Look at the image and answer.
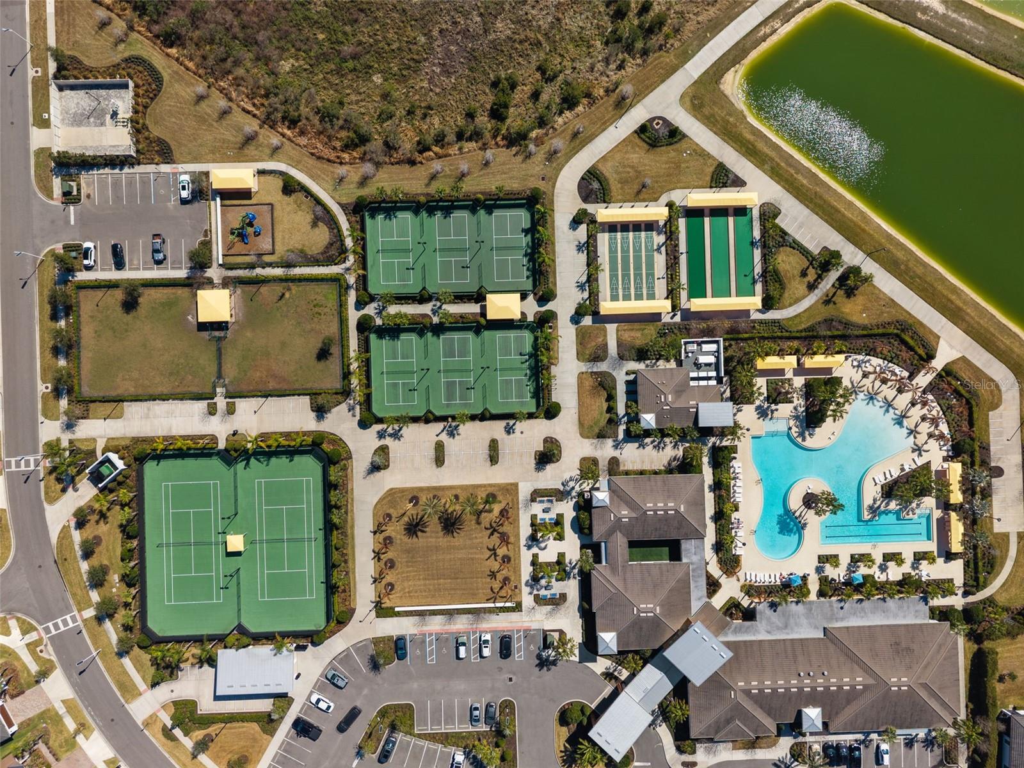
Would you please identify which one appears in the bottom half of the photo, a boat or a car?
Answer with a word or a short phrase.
car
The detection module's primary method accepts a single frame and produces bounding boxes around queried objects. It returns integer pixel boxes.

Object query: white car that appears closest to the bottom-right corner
[877,741,891,766]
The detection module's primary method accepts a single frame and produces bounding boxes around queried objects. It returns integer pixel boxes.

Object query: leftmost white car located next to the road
[83,243,96,268]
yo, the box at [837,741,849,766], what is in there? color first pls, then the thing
black vehicle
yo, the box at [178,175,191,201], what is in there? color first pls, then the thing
white vehicle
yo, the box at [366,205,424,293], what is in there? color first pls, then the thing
green sports court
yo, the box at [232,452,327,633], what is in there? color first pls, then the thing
green tennis court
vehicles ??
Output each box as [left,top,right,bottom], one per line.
[395,635,407,661]
[178,175,191,201]
[470,702,481,727]
[292,717,322,741]
[378,736,397,763]
[480,632,491,658]
[325,667,349,690]
[456,635,467,659]
[877,741,891,766]
[824,740,837,766]
[151,234,165,264]
[849,742,862,768]
[809,740,820,757]
[337,706,361,733]
[111,243,125,269]
[485,701,496,726]
[500,633,511,659]
[453,747,466,768]
[310,693,335,713]
[83,243,96,268]
[837,741,849,766]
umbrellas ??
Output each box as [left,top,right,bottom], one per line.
[789,574,802,587]
[851,572,864,584]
